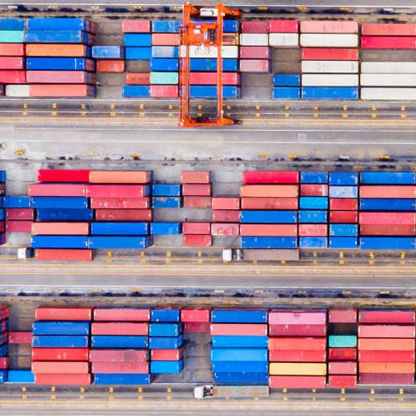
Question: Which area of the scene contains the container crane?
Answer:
top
